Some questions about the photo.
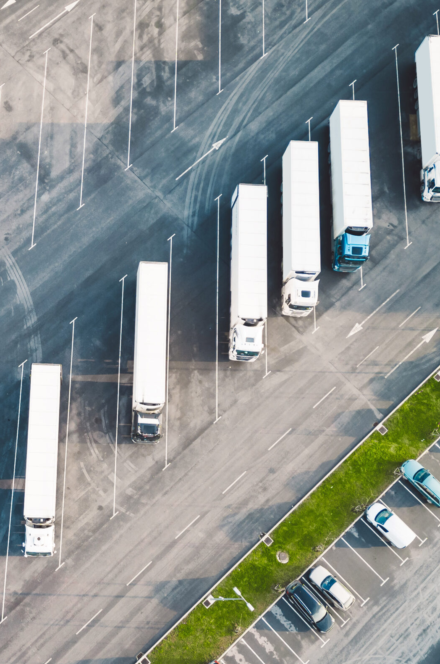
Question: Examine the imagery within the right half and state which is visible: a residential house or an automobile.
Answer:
automobile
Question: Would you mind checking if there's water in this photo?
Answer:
No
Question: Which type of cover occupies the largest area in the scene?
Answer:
paved ground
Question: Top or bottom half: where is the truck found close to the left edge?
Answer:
bottom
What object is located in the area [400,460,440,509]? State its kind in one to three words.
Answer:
car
